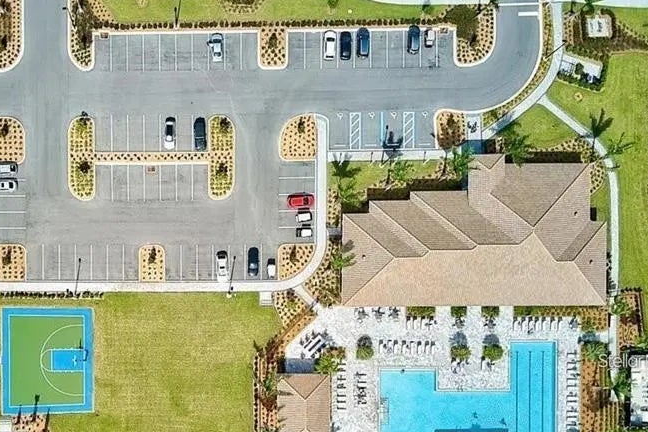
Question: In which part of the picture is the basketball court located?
bottom left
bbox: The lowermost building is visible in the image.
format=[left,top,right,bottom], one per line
[277,373,330,432]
